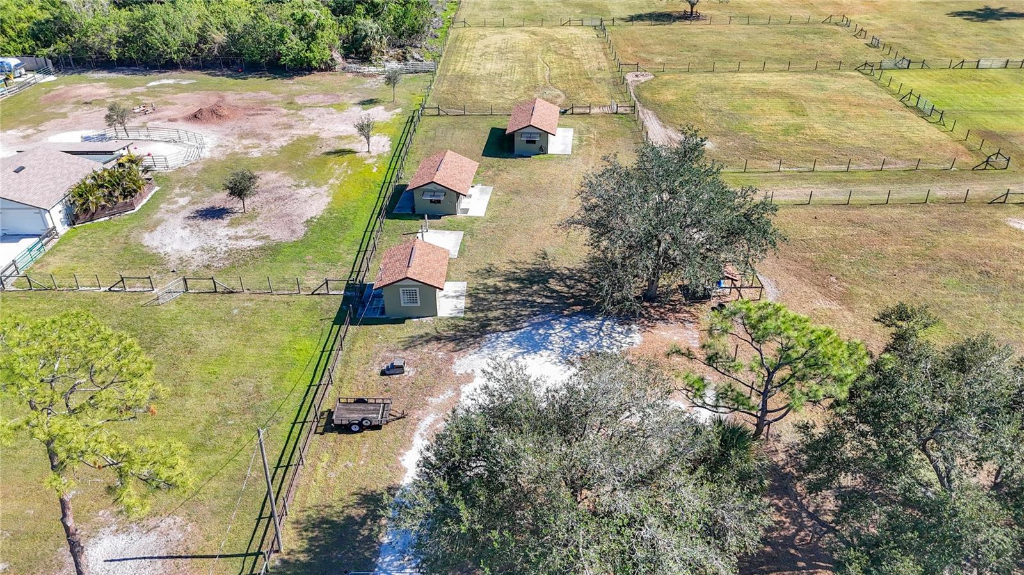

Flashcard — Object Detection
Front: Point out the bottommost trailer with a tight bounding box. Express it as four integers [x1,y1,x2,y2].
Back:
[330,396,415,435]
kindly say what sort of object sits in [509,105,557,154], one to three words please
house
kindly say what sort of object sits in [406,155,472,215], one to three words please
house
